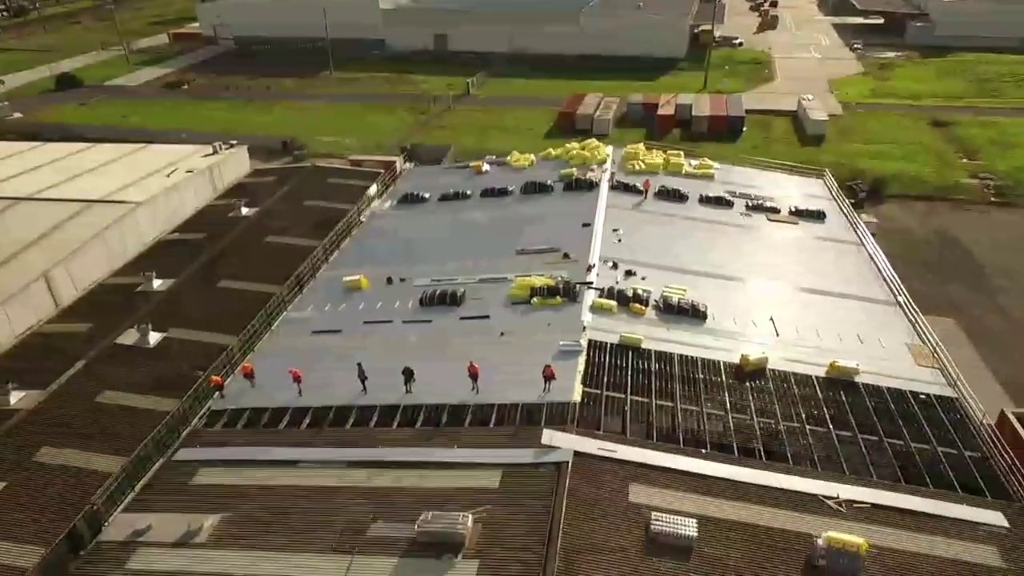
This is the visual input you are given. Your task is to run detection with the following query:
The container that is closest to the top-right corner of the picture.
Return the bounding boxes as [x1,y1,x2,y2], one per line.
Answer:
[792,94,829,137]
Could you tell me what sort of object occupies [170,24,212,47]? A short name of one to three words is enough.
shed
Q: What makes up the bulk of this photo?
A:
buildings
